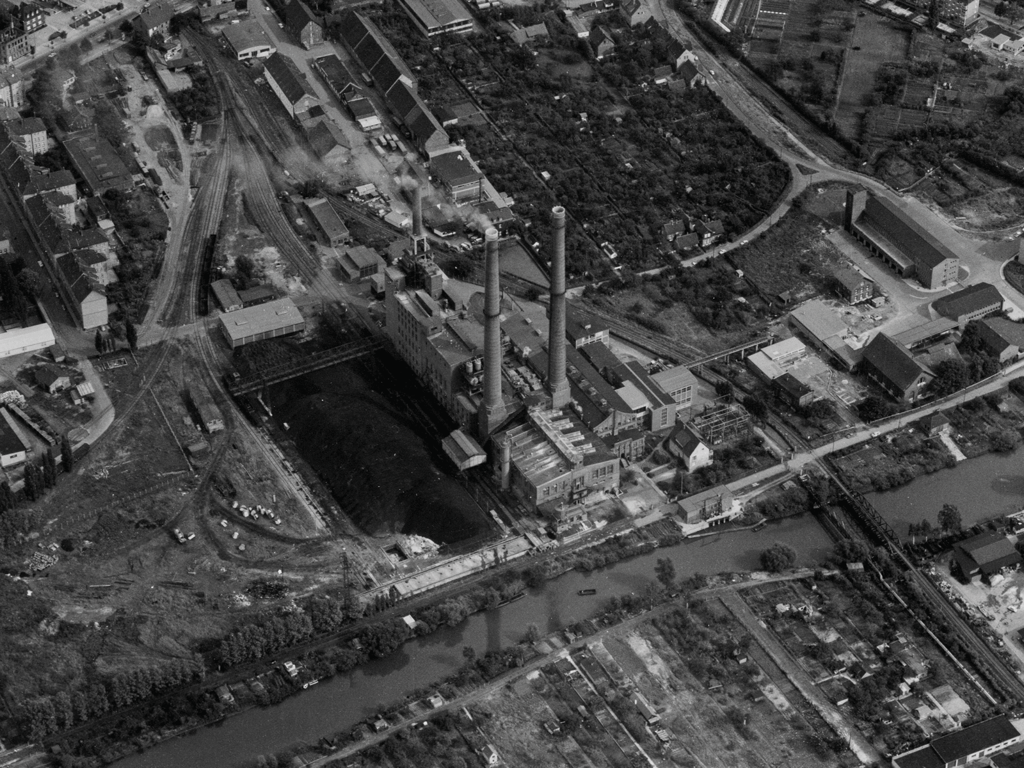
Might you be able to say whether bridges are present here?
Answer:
Yes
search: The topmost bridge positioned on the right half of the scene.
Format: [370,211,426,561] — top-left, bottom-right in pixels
[684,336,773,373]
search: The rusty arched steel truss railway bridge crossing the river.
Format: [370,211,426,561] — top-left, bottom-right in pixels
[825,474,922,577]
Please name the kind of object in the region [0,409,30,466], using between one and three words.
building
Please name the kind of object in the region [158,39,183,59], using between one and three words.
house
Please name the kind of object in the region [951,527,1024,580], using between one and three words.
barn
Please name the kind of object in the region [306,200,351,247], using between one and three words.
shed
